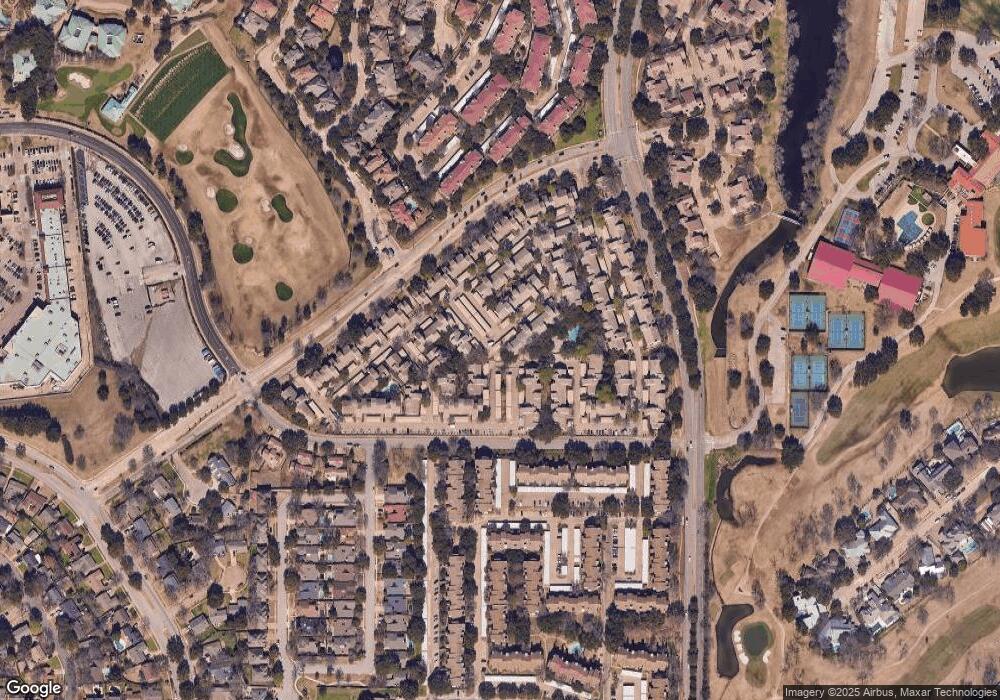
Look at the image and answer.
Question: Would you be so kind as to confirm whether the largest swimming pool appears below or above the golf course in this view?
above it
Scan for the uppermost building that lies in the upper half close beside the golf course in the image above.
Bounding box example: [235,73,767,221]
[960,200,987,256]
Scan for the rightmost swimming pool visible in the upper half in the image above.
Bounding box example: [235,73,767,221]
[889,185,943,249]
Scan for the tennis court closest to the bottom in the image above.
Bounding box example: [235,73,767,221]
[791,392,809,428]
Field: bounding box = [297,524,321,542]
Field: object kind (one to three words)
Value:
house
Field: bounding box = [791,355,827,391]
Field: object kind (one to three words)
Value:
tennis court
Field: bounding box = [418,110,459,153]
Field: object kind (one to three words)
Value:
building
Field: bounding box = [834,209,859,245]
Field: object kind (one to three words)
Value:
sports court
